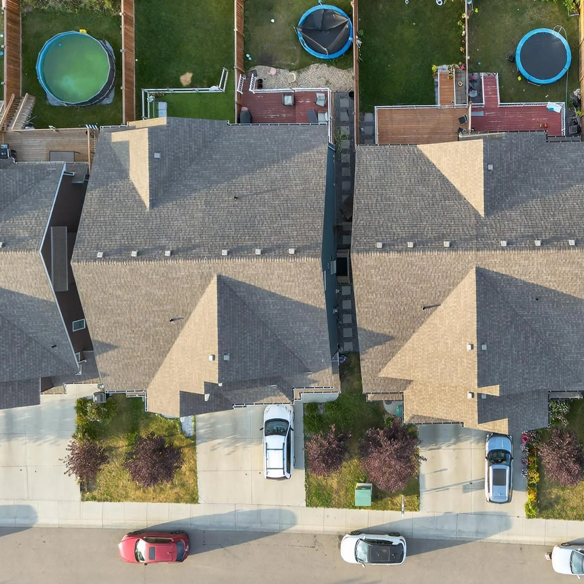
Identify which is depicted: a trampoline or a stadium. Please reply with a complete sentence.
I can see a trampoline in this picture.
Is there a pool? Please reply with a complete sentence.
Yes, there's a pool here.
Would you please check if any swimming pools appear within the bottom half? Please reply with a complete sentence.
No, within the bottom half there is no swimming pool.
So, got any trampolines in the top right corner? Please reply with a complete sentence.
Yes, I can see a trampoline in the top right corner.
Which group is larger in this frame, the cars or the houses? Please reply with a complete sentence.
Here, cars are more common than houses.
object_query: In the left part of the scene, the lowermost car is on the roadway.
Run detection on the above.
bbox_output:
[121,529,192,566]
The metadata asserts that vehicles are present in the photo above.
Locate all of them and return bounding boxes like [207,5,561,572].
[121,529,192,566]
[340,530,407,568]
[551,542,584,579]
[260,404,296,477]
[482,432,516,503]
